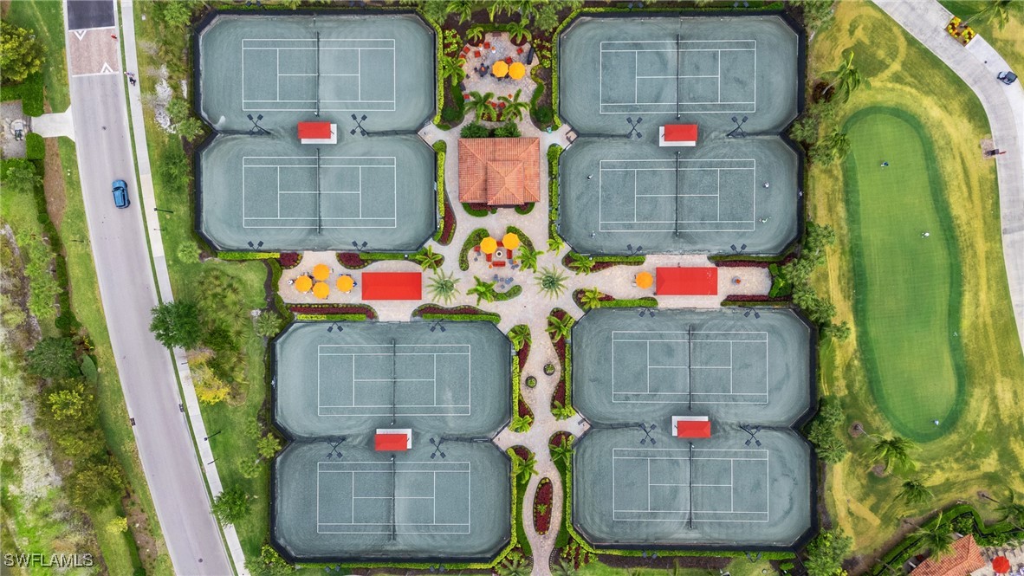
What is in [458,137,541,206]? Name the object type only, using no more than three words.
building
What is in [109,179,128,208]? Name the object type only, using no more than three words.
car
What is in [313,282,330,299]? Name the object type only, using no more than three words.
umbrella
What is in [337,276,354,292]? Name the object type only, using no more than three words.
umbrella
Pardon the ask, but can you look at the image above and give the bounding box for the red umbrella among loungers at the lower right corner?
[988,555,1009,572]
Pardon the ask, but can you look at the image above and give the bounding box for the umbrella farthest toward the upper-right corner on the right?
[635,271,652,288]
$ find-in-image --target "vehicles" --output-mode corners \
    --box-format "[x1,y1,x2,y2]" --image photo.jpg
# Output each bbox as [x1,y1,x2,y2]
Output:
[997,71,1020,84]
[109,179,128,208]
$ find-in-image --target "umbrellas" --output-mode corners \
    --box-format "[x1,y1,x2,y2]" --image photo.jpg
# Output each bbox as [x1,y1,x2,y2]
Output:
[493,61,508,77]
[480,238,496,254]
[296,275,313,292]
[337,276,354,292]
[635,271,652,288]
[313,282,330,299]
[313,264,330,281]
[503,233,520,250]
[509,63,524,79]
[988,555,1009,572]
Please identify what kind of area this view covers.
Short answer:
sports ground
